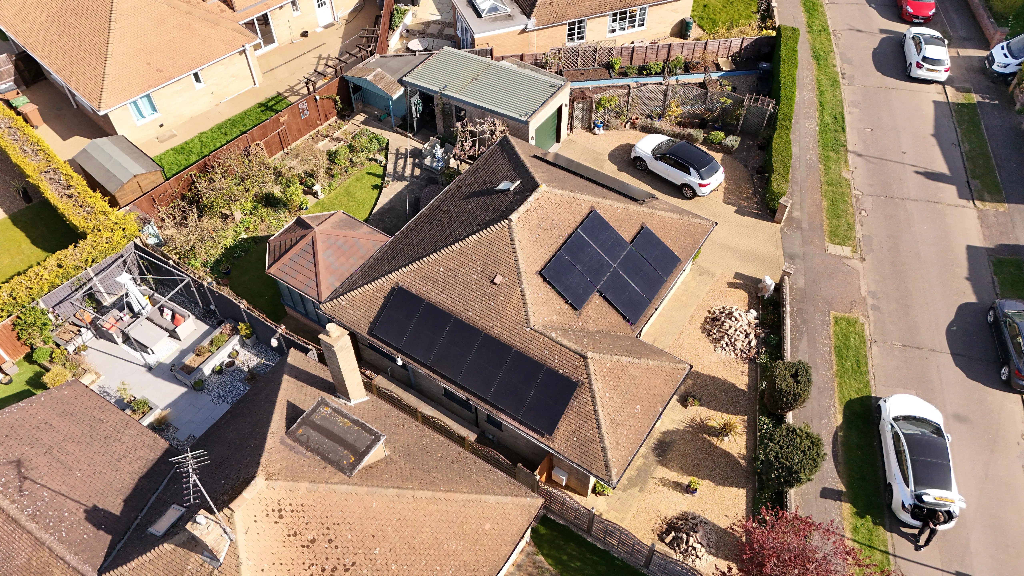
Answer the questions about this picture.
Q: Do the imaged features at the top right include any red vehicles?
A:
Yes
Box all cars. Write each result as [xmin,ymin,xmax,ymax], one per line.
[893,0,936,20]
[988,294,1024,399]
[633,134,730,204]
[901,29,950,84]
[874,397,966,537]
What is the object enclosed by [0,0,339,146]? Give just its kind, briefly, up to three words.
house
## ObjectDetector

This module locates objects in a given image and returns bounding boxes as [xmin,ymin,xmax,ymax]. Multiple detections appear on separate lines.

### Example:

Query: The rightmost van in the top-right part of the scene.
[986,37,1024,89]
